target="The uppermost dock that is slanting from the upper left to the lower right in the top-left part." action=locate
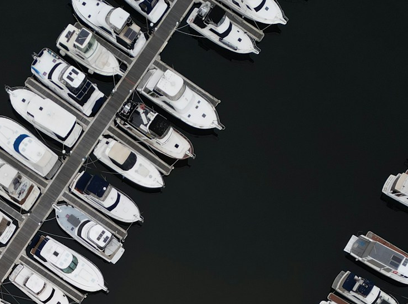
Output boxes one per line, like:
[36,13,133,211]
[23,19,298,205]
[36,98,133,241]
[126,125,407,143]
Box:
[71,21,133,67]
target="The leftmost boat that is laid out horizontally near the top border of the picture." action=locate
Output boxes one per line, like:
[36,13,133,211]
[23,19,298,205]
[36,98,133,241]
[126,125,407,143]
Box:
[118,0,167,23]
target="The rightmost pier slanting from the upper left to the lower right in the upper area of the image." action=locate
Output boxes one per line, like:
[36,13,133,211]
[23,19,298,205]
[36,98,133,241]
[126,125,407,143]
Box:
[197,0,262,41]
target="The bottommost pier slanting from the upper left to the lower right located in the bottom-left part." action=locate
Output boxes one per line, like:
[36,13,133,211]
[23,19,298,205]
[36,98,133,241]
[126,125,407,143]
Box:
[19,253,86,303]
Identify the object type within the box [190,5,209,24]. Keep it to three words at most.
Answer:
boat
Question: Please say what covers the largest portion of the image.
water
